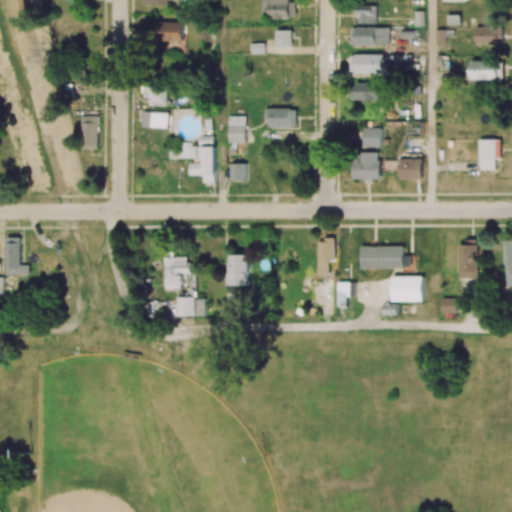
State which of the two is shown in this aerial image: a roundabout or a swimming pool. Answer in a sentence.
Of the two, only a swimming pool appears.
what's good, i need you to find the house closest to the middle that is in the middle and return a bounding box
[227,255,247,287]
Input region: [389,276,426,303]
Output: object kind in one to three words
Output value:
barn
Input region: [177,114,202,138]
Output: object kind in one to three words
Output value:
swimming pool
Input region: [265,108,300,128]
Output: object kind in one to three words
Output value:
house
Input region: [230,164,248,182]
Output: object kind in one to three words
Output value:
building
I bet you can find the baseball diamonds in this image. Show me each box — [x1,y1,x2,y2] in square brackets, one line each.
[37,353,280,512]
